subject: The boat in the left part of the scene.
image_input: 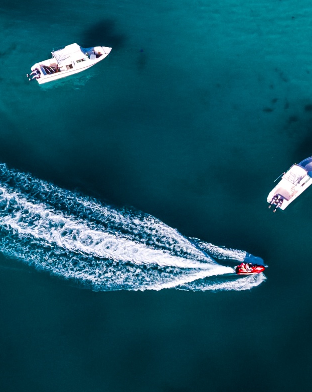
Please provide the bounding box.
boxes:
[24,43,111,84]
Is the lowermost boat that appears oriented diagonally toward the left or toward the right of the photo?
right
